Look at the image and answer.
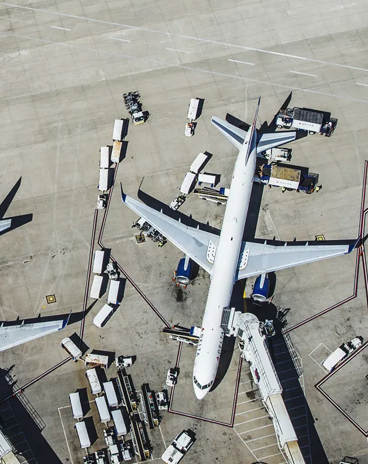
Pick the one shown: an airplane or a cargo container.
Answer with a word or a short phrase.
airplane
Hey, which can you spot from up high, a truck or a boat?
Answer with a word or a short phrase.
truck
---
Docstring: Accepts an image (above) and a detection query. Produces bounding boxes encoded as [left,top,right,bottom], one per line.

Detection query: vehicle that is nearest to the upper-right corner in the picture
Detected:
[280,109,336,138]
